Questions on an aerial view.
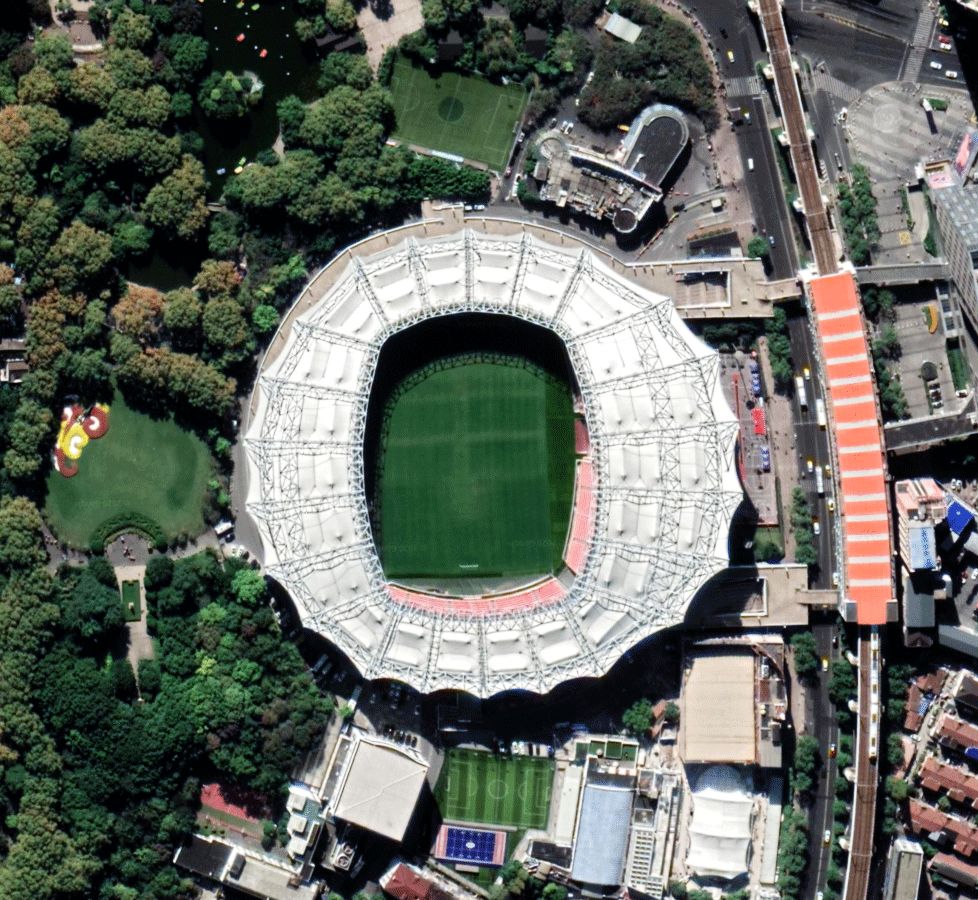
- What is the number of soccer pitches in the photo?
3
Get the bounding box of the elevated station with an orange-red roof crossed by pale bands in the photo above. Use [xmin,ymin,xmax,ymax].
[797,257,898,624]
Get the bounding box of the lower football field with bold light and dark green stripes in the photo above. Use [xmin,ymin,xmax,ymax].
[428,749,555,832]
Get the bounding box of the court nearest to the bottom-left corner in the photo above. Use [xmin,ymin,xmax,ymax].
[198,782,280,841]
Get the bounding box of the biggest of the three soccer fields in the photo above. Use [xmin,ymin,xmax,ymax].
[366,335,577,578]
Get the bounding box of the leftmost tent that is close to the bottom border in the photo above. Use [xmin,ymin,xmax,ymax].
[684,786,753,877]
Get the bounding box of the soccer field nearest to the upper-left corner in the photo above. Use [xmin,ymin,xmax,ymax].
[385,54,529,171]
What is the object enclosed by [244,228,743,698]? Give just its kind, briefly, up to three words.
stadium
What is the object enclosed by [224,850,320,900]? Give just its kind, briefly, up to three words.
house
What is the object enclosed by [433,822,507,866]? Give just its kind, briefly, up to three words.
sports court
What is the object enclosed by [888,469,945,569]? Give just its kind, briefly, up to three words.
building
